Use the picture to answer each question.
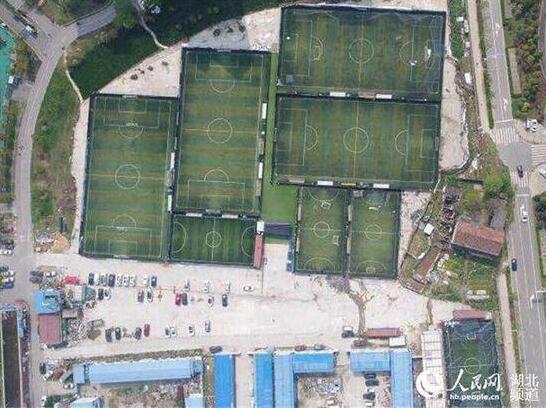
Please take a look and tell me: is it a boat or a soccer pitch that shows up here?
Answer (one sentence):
The image shows a soccer pitch.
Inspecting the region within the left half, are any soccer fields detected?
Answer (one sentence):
Yes, you'll find a soccer field within the left half.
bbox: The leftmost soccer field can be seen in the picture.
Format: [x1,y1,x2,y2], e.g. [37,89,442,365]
[84,98,180,261]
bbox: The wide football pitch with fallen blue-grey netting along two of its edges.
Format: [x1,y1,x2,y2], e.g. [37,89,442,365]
[277,11,442,101]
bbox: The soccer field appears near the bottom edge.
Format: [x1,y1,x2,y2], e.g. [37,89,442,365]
[439,316,503,410]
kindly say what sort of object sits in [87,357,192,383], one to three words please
building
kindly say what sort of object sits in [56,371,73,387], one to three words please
vehicle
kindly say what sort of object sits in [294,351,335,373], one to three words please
building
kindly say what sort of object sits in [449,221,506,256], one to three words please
house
